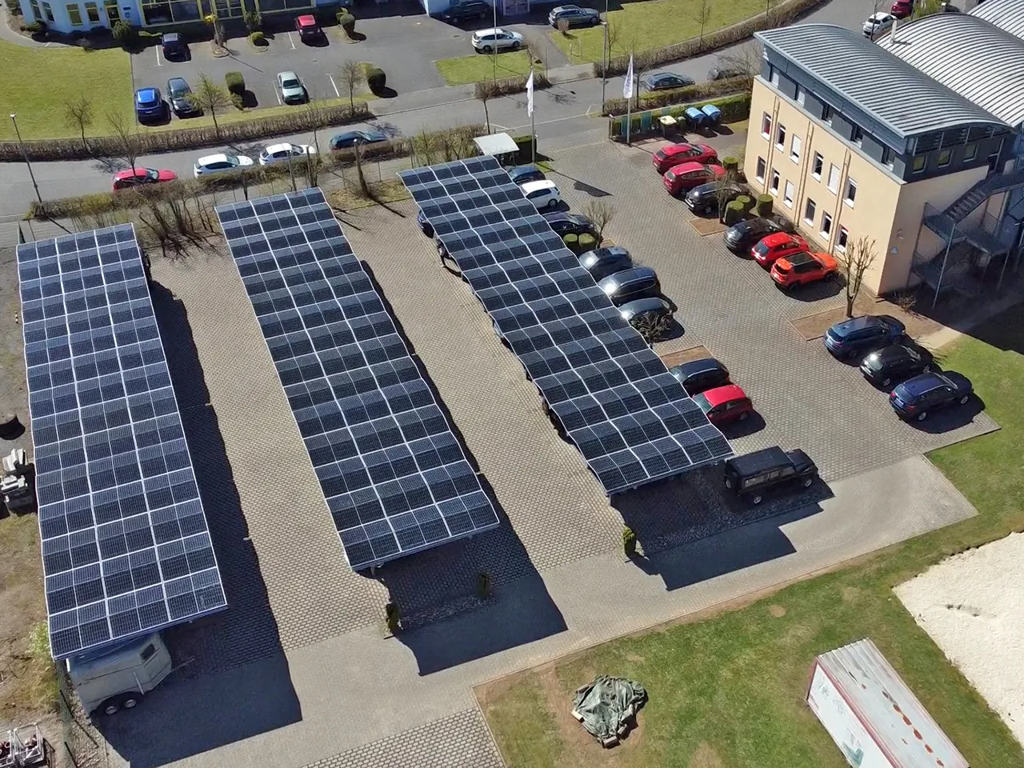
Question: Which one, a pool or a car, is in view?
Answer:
car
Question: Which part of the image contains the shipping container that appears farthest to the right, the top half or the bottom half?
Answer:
bottom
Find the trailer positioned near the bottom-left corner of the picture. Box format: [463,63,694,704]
[67,632,195,710]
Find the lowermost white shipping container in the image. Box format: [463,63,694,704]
[808,639,970,768]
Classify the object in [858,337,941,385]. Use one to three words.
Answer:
car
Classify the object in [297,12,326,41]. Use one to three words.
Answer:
car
